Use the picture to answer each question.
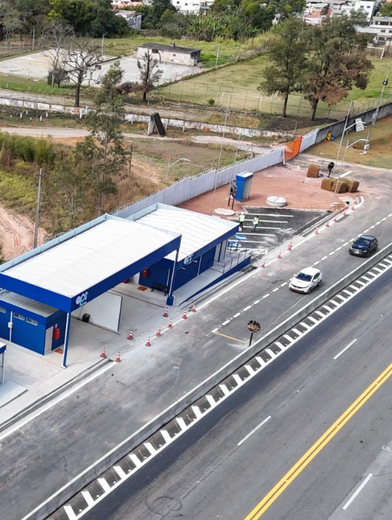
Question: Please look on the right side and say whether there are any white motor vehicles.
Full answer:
Yes, there is a white motor vehicle on the right side.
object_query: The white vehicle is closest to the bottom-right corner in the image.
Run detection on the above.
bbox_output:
[289,263,325,291]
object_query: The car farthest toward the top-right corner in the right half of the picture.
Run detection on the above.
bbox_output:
[351,232,382,256]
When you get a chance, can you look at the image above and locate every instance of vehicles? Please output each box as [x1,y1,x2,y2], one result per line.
[289,263,325,291]
[351,232,382,256]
